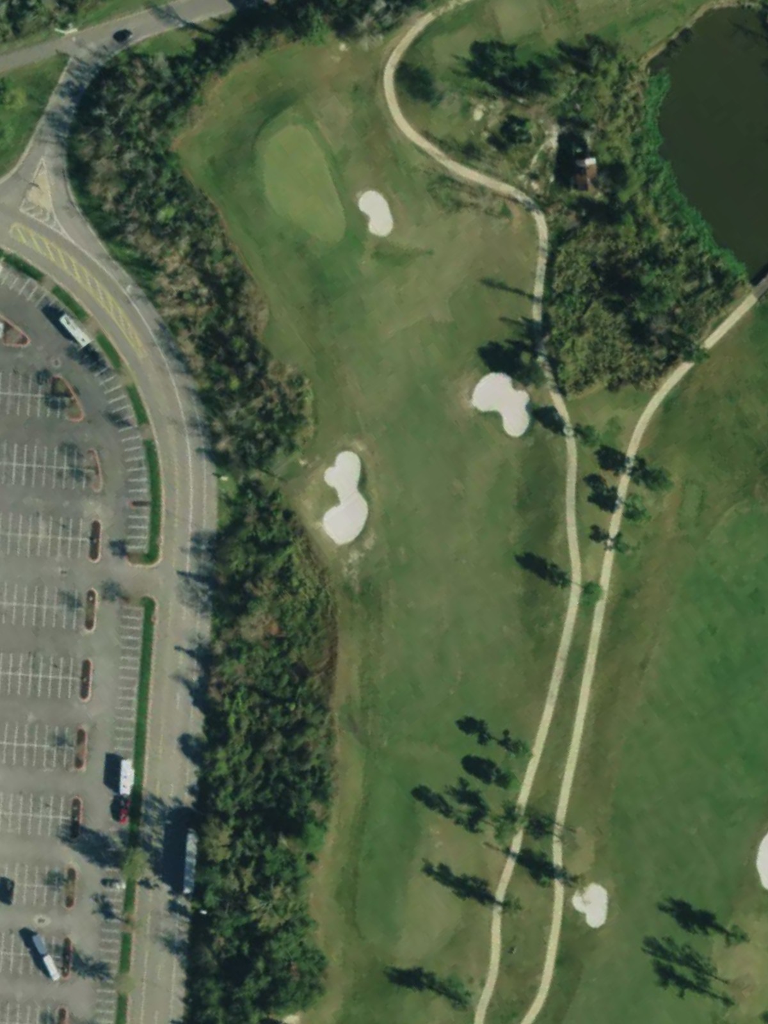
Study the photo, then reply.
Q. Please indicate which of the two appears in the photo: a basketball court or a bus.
bus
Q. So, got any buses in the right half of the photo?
No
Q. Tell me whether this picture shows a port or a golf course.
golf course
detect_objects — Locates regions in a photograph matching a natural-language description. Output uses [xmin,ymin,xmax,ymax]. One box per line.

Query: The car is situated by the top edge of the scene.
[113,29,132,42]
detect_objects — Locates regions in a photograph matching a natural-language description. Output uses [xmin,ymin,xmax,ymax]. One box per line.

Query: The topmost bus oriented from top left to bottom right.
[59,314,91,347]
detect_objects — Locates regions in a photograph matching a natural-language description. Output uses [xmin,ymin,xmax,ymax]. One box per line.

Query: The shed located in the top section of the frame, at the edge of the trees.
[573,159,597,198]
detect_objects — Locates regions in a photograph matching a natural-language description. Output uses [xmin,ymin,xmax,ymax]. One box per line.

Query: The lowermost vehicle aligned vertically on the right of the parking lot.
[183,829,198,892]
